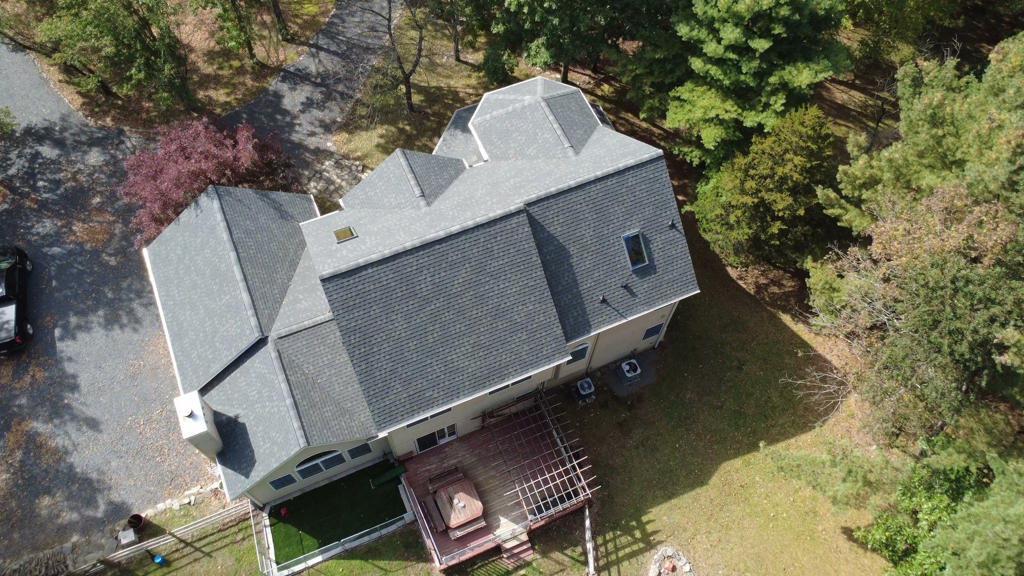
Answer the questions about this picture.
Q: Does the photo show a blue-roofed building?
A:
No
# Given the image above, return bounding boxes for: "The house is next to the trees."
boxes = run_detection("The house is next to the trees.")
[141,75,700,511]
